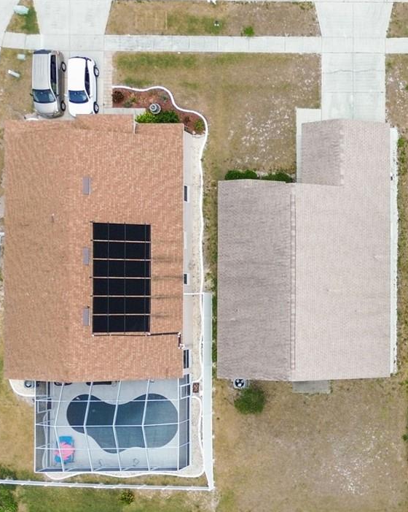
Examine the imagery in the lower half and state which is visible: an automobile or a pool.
pool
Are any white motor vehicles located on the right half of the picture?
No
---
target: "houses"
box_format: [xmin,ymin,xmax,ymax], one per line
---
[218,120,393,383]
[1,113,198,382]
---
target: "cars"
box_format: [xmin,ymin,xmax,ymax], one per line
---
[65,56,100,119]
[30,49,68,120]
